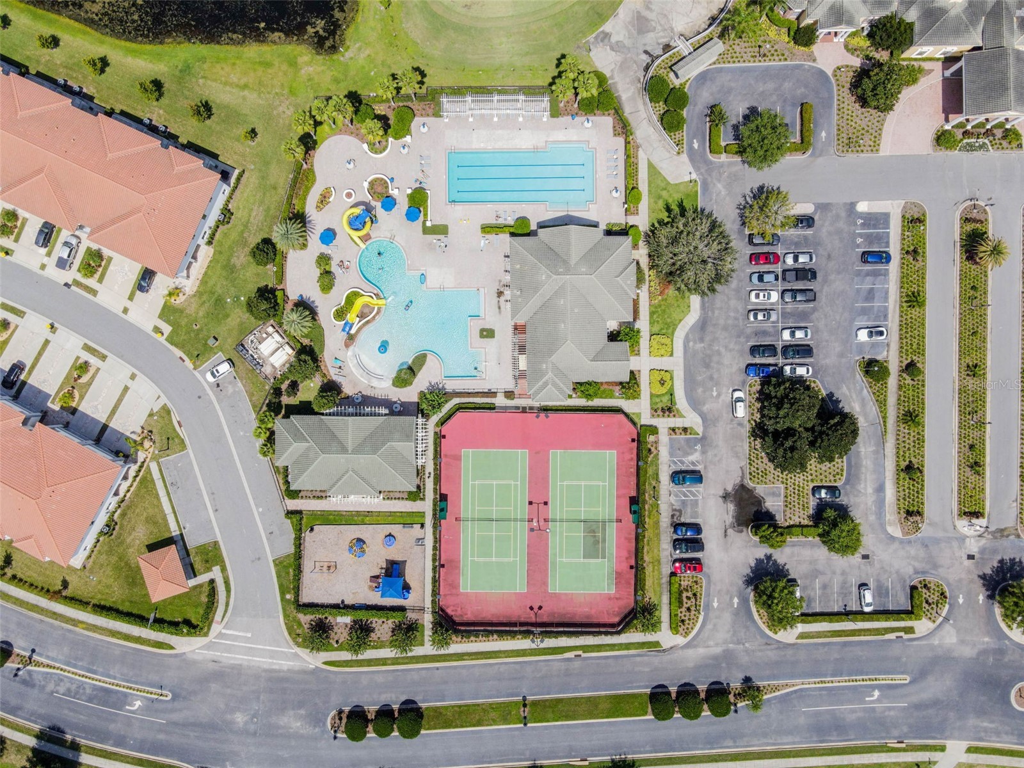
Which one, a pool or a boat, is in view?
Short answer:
pool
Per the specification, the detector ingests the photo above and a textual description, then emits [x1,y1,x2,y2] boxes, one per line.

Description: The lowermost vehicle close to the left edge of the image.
[3,360,25,390]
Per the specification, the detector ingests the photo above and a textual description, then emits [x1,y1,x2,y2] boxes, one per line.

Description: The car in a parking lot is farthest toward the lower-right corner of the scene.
[857,582,873,611]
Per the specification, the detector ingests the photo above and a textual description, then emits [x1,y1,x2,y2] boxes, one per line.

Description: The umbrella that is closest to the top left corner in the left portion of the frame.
[320,230,335,245]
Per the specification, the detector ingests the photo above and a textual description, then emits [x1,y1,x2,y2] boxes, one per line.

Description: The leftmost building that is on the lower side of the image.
[0,391,134,567]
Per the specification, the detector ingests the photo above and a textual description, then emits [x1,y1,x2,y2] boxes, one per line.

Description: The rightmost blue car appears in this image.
[859,250,889,264]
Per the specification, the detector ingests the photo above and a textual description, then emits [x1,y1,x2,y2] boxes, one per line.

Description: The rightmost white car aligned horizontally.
[856,327,885,340]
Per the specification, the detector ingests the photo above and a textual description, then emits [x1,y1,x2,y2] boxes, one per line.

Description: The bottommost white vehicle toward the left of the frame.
[206,360,236,381]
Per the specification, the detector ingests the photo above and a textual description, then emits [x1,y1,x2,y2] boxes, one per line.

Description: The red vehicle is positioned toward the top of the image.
[749,252,779,265]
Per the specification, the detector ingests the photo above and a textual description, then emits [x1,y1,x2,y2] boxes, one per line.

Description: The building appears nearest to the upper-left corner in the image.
[0,66,245,279]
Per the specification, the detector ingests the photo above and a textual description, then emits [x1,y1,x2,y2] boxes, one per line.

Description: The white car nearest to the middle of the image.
[730,389,745,418]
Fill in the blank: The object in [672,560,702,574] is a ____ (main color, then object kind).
red car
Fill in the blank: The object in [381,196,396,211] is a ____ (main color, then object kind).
blue umbrella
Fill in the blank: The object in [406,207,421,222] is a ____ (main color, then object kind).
blue umbrella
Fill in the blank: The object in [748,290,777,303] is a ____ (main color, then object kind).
white vehicle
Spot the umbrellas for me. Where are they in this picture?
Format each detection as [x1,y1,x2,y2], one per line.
[320,230,335,245]
[406,207,421,222]
[381,196,396,211]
